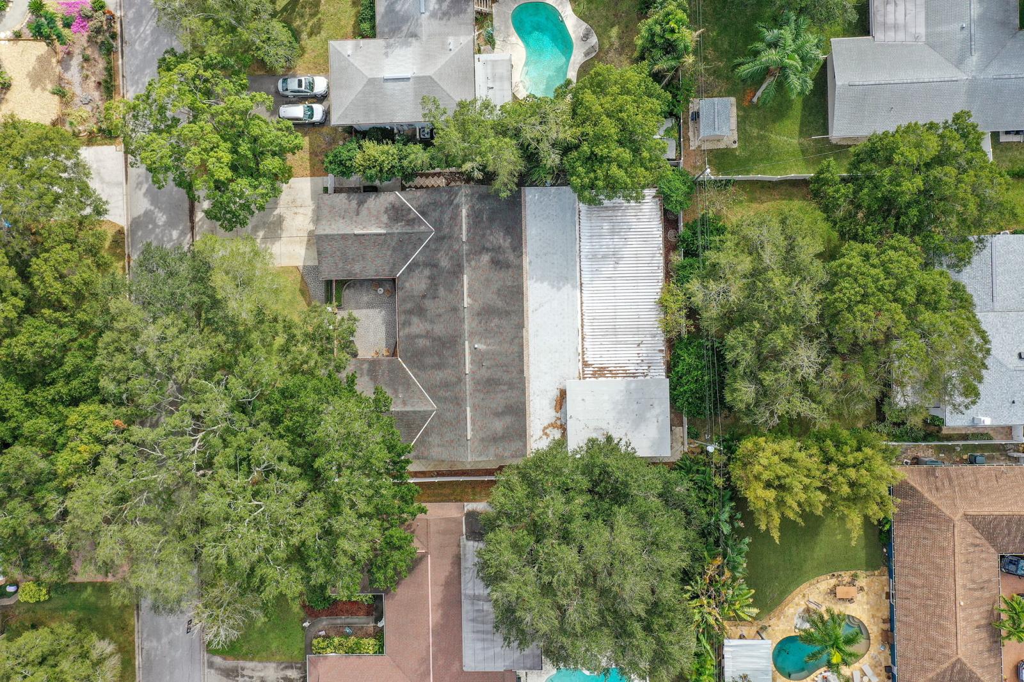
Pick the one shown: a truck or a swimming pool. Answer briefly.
swimming pool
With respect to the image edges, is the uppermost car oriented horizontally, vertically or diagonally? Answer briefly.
horizontally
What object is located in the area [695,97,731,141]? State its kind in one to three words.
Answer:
shed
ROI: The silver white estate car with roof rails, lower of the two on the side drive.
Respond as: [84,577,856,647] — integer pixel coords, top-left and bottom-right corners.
[279,101,326,125]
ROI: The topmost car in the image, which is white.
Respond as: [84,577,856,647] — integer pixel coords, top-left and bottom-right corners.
[277,72,327,97]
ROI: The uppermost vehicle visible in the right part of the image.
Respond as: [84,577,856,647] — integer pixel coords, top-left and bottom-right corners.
[1003,557,1024,579]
